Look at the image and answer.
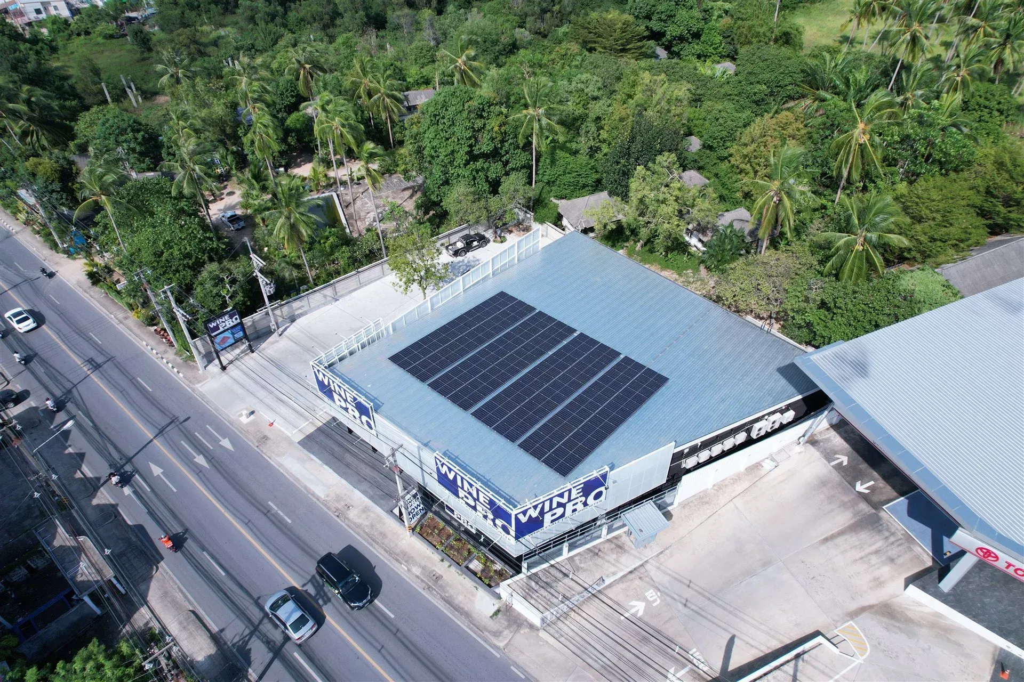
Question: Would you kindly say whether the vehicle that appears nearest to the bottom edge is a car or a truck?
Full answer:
I'd identify the vehicle that appears nearest to the bottom edge as a car.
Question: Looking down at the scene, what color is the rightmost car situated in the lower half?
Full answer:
The rightmost car situated in the lower half looks black in the image.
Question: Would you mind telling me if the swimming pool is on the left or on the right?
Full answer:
You can find the swimming pool on the left side of the picture.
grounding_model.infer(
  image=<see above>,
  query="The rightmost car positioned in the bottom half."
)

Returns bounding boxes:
[314,556,370,615]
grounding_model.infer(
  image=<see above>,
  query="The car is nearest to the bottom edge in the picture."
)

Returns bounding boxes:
[265,589,318,647]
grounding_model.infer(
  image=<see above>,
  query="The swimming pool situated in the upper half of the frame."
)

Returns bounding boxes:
[300,189,355,252]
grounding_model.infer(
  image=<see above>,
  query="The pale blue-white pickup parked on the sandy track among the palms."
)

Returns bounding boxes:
[220,210,246,233]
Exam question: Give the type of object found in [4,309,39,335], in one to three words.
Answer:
car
